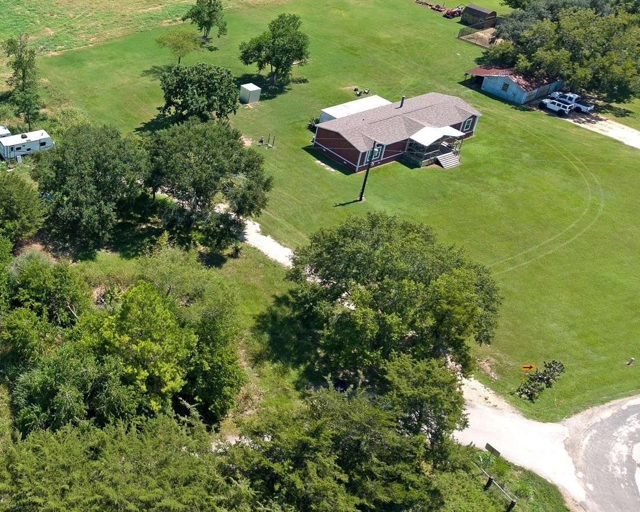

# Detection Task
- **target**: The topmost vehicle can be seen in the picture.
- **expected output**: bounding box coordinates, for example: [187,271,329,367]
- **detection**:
[439,0,467,20]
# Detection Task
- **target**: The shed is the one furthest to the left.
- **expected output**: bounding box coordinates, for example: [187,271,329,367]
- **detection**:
[241,81,265,106]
